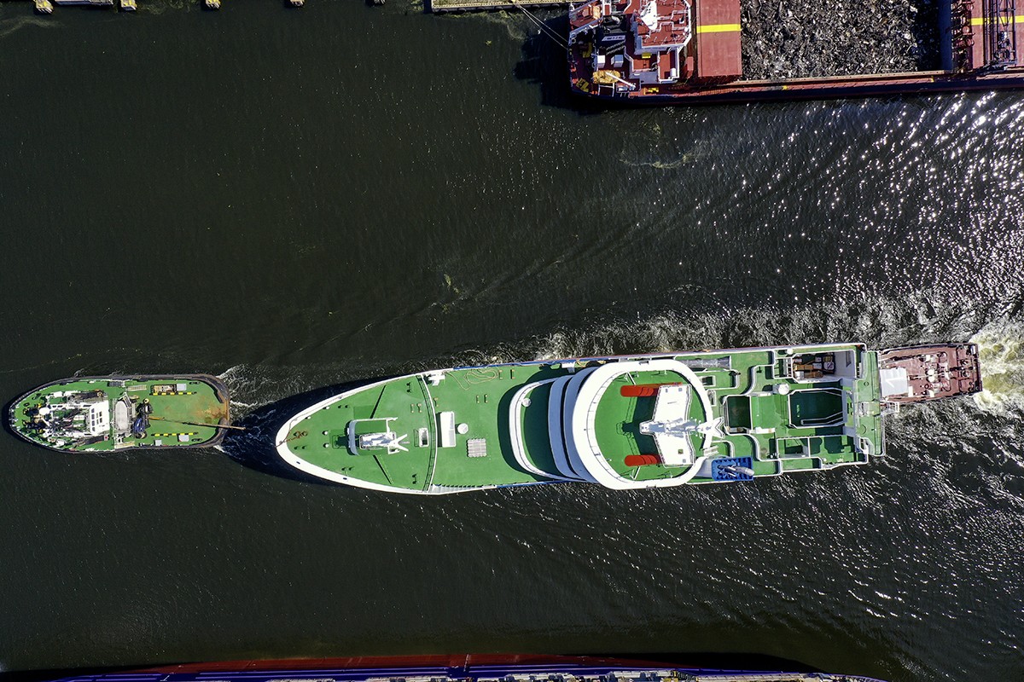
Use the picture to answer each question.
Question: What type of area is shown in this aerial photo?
port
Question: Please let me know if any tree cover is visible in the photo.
No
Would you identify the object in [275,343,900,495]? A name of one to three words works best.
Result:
ship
